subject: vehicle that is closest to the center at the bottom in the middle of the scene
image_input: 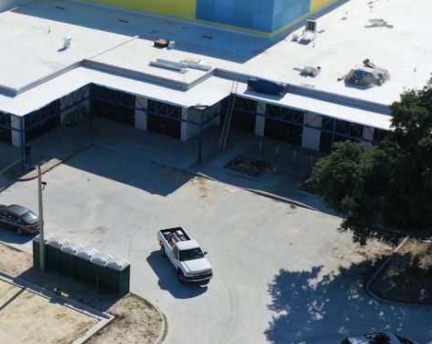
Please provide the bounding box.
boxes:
[160,228,213,285]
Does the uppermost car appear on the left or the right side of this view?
left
